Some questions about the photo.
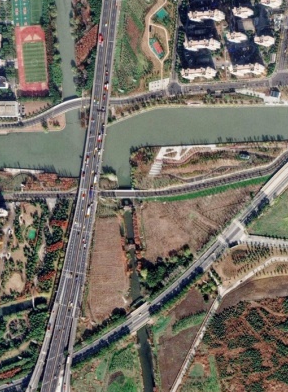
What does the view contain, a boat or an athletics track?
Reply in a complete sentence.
There is an athletics track in the scene.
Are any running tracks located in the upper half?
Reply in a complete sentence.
Yes, you'll find a running track in the upper half.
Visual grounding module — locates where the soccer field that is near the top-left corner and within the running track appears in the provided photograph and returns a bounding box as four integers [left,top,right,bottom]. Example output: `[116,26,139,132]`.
[23,40,46,83]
